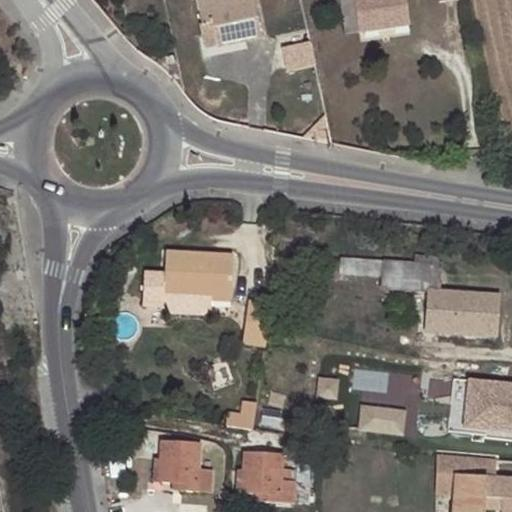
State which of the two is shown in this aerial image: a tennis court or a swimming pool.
swimming pool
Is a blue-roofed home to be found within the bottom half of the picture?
No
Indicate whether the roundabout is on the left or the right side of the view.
left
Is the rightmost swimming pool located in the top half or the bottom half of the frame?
bottom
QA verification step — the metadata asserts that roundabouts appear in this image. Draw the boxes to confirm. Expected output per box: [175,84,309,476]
[0,24,238,258]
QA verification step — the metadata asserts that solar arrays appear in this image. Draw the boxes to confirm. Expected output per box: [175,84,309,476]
[219,20,257,44]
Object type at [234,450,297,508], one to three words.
house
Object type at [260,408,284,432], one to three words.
shed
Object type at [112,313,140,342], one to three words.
swimming pool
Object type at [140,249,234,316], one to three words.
house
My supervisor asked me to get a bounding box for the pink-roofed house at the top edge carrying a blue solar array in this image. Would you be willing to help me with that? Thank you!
[198,0,264,58]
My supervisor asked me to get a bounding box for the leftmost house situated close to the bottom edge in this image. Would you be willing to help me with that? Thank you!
[147,440,214,504]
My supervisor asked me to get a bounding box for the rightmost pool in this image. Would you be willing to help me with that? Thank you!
[352,370,389,393]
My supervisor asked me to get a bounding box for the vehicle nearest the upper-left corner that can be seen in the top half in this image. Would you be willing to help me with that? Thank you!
[40,180,65,194]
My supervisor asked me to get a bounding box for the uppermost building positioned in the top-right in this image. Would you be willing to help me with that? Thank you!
[342,0,414,44]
